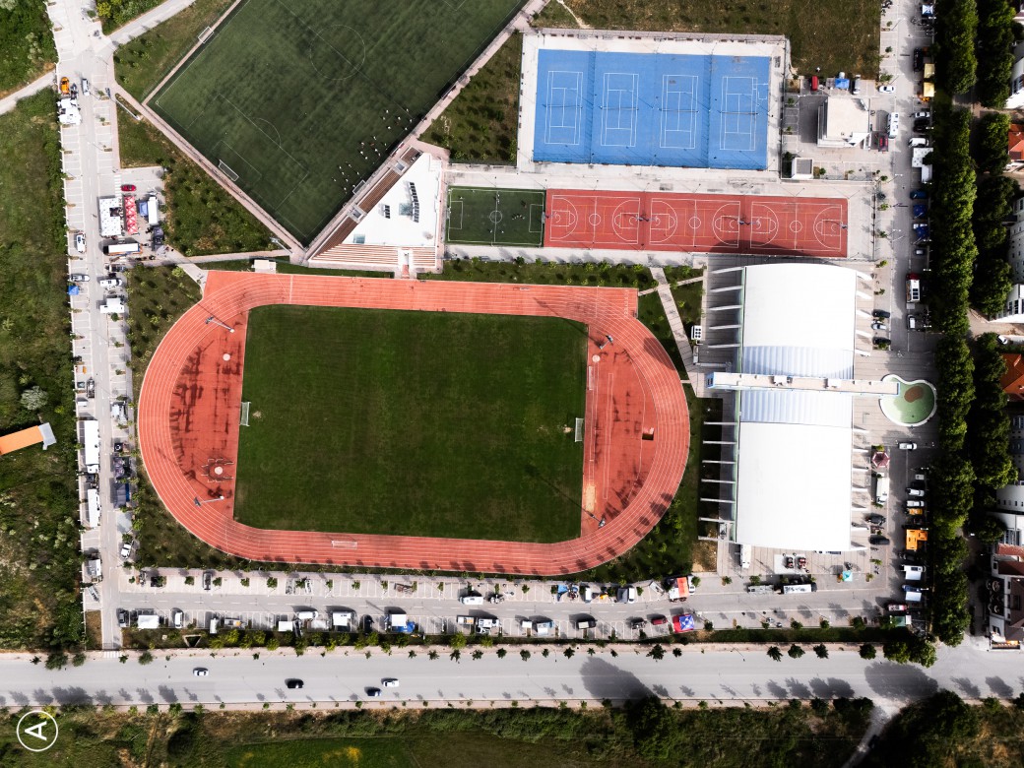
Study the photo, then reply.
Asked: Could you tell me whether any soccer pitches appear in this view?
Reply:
Yes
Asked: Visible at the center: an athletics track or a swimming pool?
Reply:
athletics track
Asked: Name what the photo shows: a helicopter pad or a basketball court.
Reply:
basketball court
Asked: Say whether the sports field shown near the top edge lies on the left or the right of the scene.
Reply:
left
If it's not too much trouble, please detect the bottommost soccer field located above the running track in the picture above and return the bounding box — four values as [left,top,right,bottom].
[446,188,545,246]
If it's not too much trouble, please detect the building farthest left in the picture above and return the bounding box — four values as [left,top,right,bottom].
[0,423,58,460]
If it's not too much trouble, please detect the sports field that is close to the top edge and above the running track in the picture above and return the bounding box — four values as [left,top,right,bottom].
[143,0,525,245]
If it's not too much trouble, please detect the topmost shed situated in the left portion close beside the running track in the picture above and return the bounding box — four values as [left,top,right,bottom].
[254,259,278,275]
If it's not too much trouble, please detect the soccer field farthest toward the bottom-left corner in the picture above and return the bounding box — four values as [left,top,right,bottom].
[233,304,587,543]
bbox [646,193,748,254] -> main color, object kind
red basketball court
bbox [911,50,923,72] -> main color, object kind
black vehicle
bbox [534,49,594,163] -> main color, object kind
blue tennis court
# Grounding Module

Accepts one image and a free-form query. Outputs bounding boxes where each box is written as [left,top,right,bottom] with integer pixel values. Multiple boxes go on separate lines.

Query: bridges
[705,372,901,397]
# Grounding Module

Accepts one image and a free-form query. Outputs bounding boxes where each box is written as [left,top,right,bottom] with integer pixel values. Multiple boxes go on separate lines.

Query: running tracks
[136,269,692,577]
